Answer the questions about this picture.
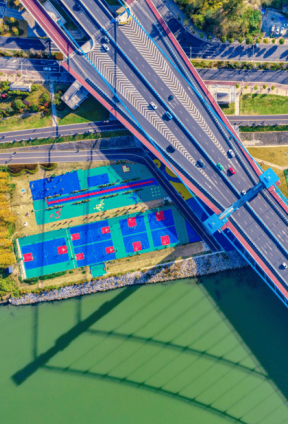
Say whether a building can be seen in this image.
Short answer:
Yes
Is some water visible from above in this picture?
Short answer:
Yes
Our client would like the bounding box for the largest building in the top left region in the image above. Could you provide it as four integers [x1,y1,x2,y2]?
[61,79,91,110]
